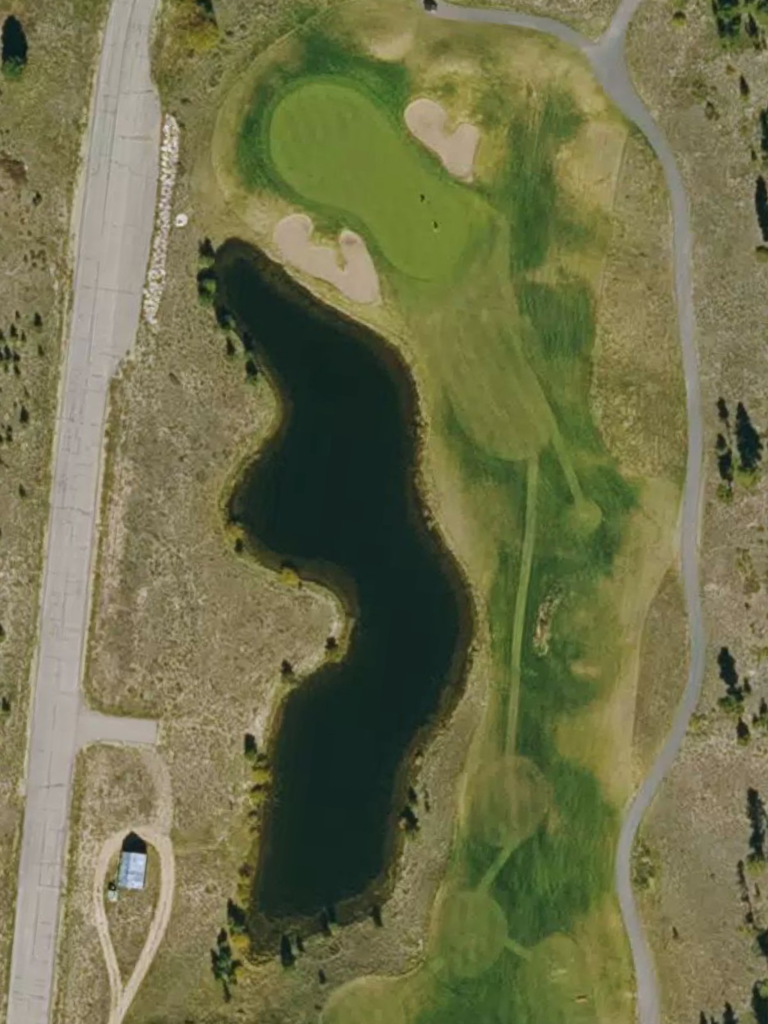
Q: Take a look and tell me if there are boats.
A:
No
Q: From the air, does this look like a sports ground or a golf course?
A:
golf course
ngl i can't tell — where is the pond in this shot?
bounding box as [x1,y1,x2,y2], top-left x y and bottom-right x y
[214,238,474,957]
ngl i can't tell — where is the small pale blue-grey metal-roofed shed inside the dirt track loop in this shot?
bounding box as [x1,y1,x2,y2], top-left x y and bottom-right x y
[117,854,145,892]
